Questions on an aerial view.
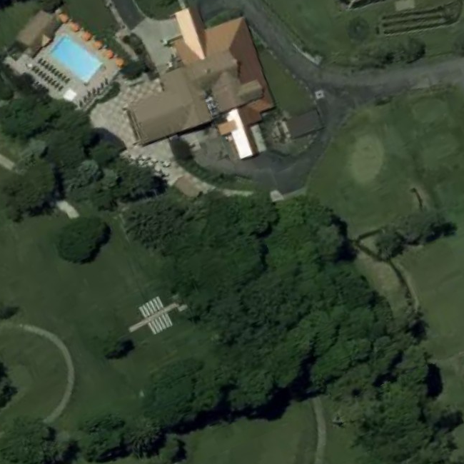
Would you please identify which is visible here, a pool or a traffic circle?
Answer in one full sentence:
The one in the frame is a pool.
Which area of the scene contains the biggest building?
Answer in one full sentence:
The biggest building appears toward the top of the photo.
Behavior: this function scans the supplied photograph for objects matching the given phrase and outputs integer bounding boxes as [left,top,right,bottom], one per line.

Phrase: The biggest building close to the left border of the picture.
[14,10,58,55]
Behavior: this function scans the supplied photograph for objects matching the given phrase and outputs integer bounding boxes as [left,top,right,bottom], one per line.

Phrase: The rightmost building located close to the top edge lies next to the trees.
[128,9,274,162]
